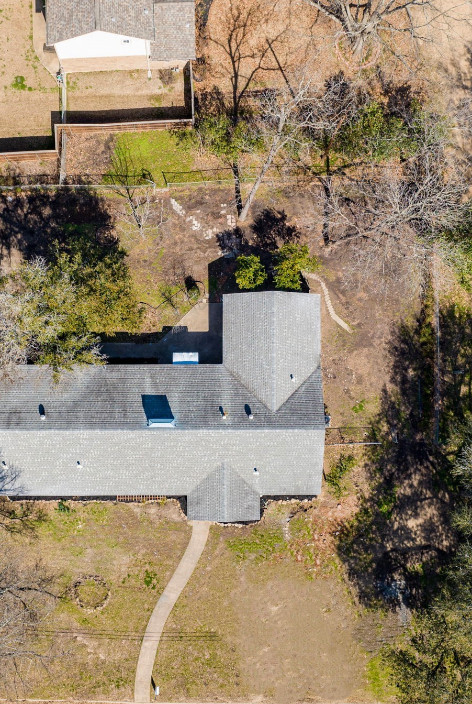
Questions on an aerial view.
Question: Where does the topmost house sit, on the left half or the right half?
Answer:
left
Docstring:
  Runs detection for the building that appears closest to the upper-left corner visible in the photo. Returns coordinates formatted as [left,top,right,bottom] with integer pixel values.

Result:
[43,0,194,82]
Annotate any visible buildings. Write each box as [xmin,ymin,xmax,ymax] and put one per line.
[43,0,194,82]
[0,291,327,522]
